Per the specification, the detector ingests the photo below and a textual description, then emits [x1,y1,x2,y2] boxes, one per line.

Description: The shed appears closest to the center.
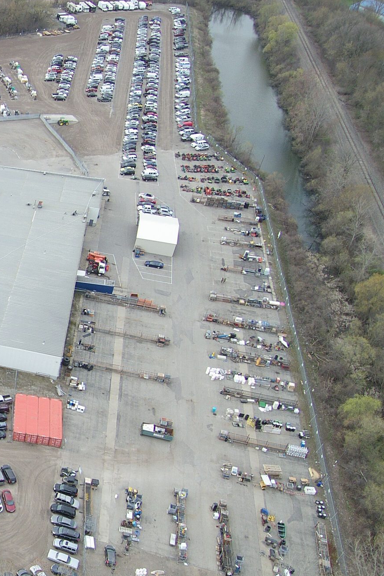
[134,213,180,256]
